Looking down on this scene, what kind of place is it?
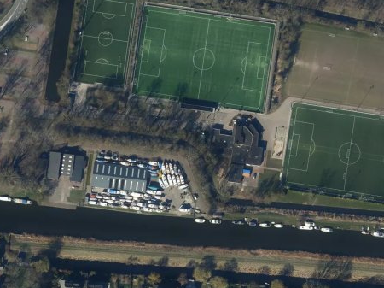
sports ground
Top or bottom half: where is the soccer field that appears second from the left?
top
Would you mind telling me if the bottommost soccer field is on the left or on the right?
right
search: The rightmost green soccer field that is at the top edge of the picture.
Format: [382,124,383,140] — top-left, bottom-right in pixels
[132,2,279,113]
